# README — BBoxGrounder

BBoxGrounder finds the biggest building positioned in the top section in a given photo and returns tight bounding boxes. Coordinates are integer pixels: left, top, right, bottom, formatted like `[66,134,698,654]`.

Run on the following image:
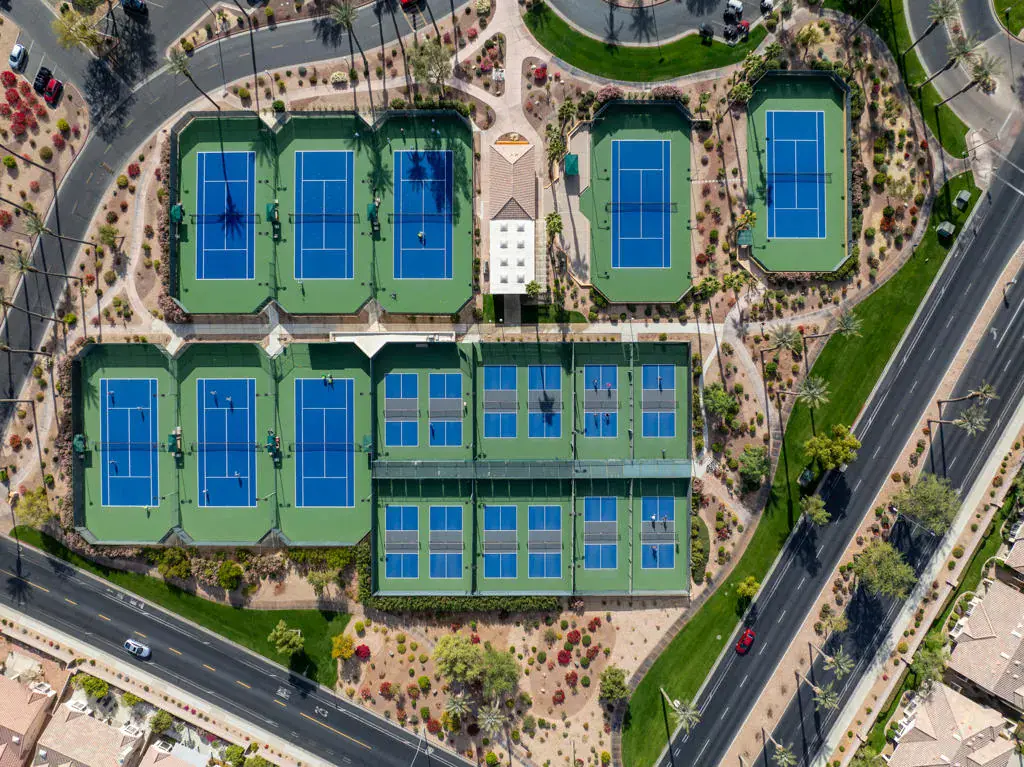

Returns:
[489,144,535,296]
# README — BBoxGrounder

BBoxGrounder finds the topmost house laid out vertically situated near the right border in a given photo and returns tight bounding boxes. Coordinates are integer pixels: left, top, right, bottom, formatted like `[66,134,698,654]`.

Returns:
[996,506,1024,572]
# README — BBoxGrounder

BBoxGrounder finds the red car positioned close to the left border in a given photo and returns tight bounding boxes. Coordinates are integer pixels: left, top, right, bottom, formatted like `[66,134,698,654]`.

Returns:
[43,78,62,103]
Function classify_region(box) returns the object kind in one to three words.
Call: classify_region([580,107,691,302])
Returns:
tennis court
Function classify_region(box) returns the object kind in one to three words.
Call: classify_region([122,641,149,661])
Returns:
car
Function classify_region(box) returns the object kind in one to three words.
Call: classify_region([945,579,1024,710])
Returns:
house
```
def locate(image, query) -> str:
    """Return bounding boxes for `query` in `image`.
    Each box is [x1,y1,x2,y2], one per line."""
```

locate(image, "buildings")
[945,579,1024,710]
[0,669,63,767]
[883,679,1011,767]
[489,144,535,296]
[32,696,148,767]
[140,737,217,767]
[996,506,1024,572]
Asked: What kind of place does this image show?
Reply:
sports ground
